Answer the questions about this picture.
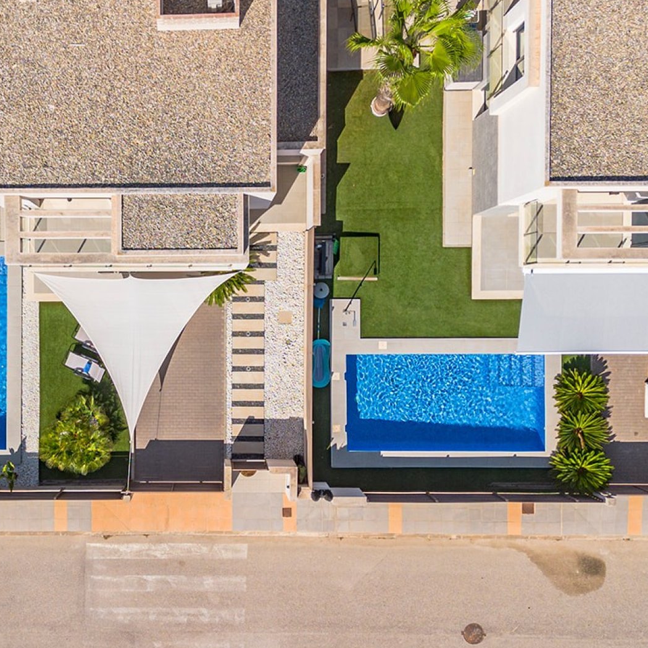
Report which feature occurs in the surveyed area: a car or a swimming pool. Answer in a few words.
swimming pool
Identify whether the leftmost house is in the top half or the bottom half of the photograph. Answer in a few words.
top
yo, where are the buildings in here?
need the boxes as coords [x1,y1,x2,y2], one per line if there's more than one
[0,0,329,274]
[472,0,648,268]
